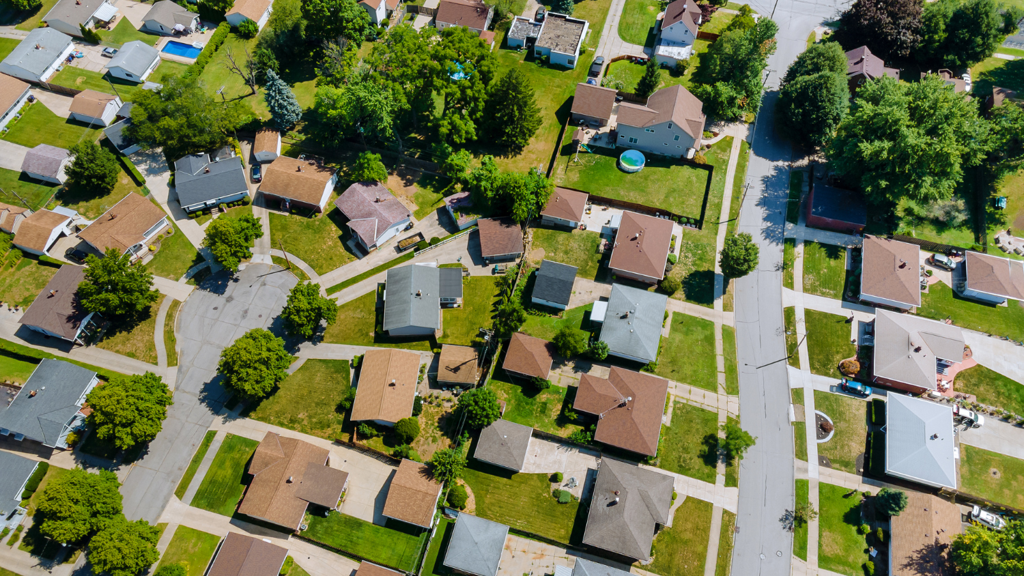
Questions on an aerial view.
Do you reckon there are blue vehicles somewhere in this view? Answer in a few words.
Yes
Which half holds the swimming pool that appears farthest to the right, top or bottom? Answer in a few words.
top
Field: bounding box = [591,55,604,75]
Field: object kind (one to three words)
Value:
vehicle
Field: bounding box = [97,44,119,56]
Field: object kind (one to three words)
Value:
vehicle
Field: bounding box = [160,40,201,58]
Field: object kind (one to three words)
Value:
swimming pool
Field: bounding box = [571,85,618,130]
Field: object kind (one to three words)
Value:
building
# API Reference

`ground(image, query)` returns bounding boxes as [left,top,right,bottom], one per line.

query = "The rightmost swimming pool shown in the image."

[618,149,644,173]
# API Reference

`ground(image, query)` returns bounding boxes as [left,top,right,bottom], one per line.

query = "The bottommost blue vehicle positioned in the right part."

[843,376,873,395]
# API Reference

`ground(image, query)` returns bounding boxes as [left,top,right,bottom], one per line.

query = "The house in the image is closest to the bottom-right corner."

[886,488,961,576]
